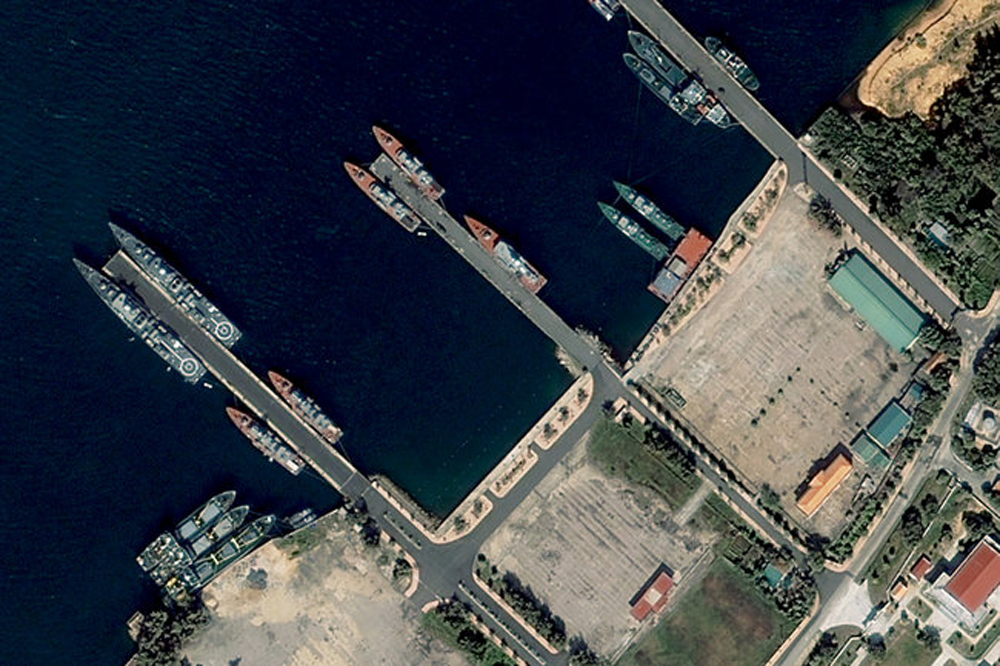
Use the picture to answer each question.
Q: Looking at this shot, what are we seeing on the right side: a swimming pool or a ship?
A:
ship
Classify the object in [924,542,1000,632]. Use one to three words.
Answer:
building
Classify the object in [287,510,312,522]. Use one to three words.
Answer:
boat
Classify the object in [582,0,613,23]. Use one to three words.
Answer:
boat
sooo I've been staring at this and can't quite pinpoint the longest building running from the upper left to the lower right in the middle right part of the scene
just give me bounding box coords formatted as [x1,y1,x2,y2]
[829,250,929,351]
